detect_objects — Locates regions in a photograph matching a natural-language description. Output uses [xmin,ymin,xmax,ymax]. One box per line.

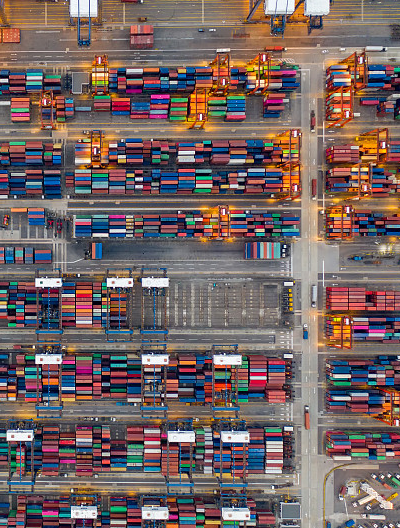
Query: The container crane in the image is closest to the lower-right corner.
[370,386,400,428]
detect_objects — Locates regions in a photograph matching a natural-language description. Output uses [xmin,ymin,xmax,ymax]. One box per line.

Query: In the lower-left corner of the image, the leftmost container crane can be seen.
[5,420,37,494]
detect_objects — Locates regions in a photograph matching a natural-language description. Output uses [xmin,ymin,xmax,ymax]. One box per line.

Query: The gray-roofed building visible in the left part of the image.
[73,71,88,97]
